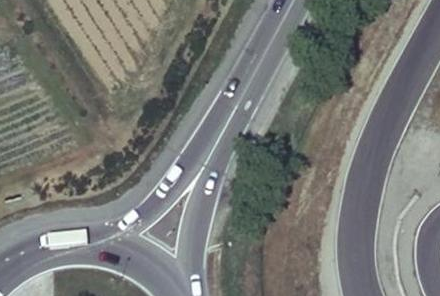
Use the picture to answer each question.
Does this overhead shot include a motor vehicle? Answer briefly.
Yes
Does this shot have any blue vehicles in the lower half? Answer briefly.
No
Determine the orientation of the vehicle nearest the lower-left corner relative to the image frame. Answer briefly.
horizontally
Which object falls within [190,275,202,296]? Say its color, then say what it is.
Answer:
white vehicle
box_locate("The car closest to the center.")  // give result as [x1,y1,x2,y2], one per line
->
[205,172,218,196]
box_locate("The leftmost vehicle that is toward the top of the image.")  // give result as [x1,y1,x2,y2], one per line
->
[226,78,240,98]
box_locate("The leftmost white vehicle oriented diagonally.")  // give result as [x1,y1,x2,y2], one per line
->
[118,211,139,231]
